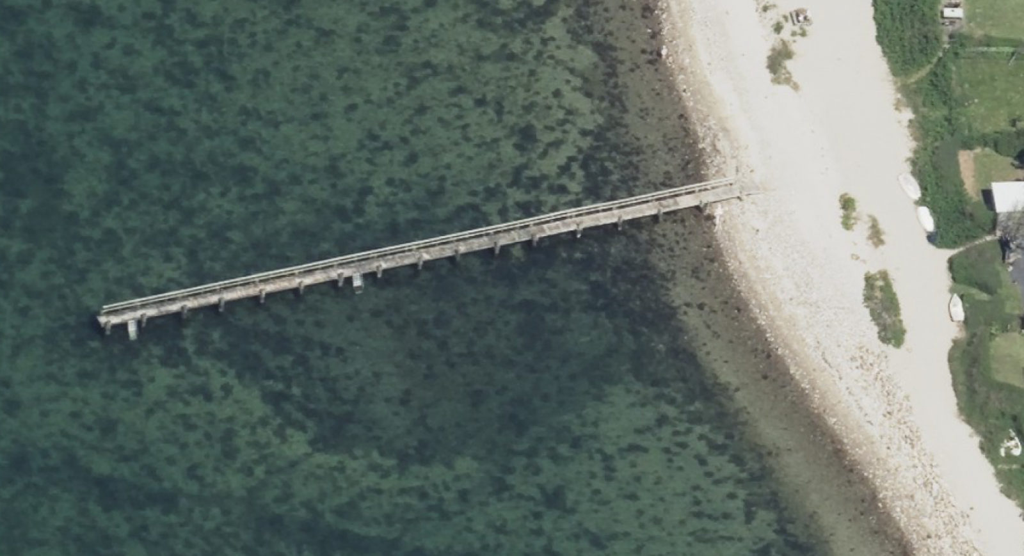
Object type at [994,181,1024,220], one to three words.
house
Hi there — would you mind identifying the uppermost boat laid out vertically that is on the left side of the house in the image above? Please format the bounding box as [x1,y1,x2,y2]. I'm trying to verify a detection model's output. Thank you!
[918,205,933,232]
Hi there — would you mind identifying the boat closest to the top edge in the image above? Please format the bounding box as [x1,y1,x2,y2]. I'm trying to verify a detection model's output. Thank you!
[899,171,922,200]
